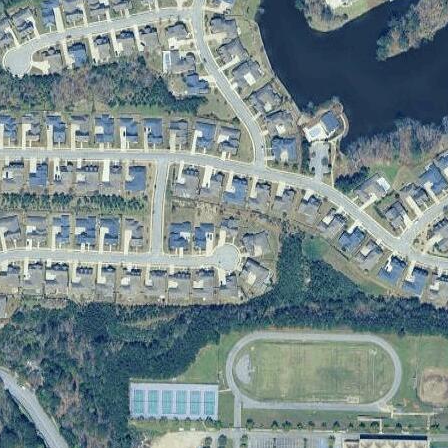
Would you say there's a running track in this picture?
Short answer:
Yes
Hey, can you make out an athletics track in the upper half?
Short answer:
No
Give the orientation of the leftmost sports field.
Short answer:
from left to right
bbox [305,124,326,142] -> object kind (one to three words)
swimming pool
